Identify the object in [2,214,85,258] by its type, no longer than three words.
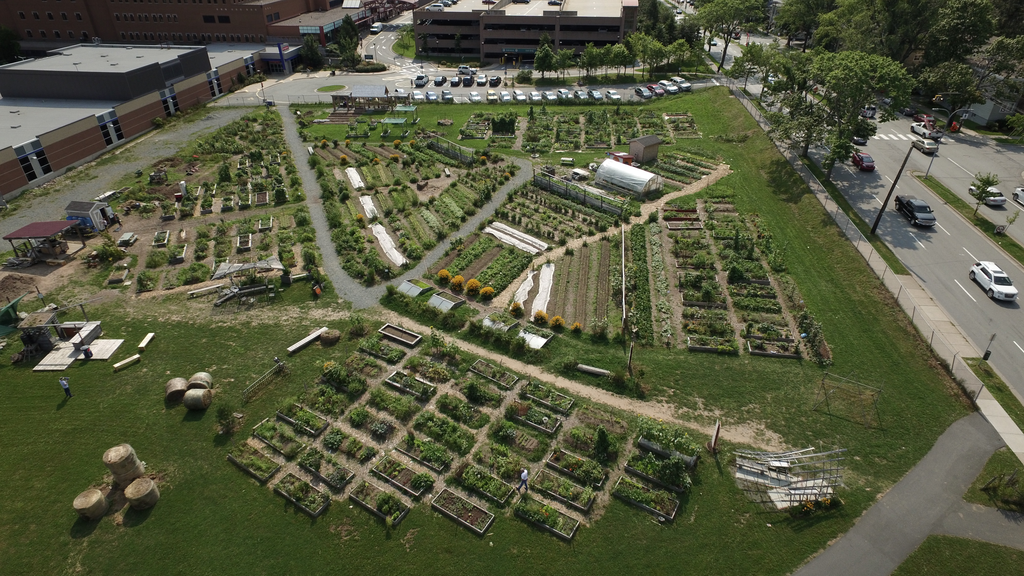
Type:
building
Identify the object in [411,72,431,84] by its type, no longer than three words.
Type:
vehicle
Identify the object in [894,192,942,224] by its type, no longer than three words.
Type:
truck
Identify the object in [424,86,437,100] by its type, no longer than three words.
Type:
vehicle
